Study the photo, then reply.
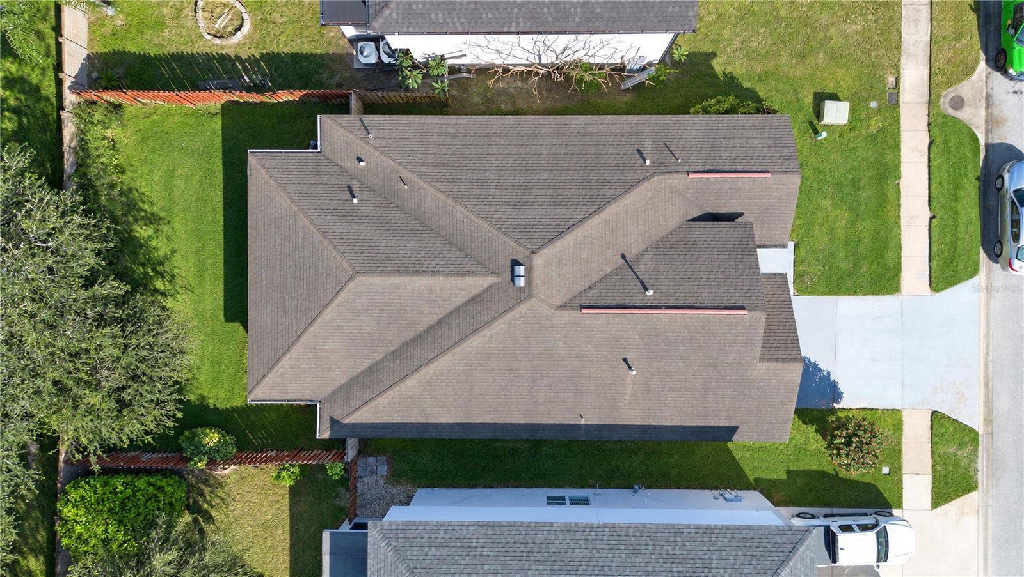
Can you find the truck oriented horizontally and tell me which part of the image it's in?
bottom right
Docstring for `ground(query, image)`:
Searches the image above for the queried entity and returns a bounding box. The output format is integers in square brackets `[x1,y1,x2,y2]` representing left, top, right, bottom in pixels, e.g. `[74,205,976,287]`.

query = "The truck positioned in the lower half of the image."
[783,511,913,573]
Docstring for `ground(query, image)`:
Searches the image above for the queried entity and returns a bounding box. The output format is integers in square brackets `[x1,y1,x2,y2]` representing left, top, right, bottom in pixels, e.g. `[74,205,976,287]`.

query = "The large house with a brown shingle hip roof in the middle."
[246,112,802,442]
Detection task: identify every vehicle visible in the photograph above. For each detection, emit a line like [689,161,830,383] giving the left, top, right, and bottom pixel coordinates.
[993,159,1024,274]
[783,511,913,573]
[993,0,1024,82]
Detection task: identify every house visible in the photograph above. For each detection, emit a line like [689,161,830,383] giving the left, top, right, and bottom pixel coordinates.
[320,481,819,577]
[318,0,699,64]
[246,112,802,442]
